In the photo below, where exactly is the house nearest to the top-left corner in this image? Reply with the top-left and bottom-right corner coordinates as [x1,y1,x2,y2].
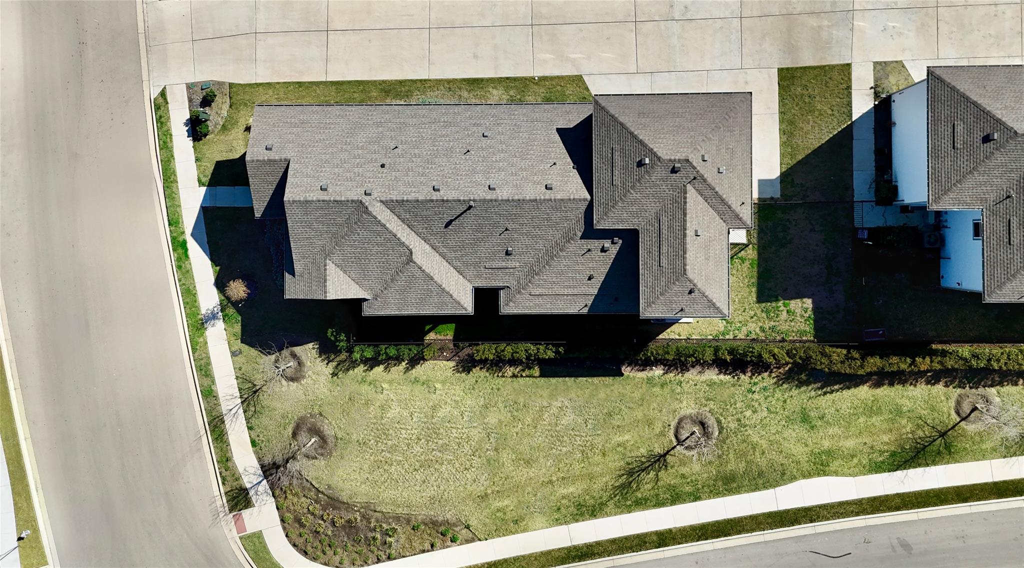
[246,93,753,318]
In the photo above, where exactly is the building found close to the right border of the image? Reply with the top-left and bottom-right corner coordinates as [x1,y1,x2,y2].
[889,66,1024,302]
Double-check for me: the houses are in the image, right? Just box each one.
[246,93,753,318]
[889,66,1024,302]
